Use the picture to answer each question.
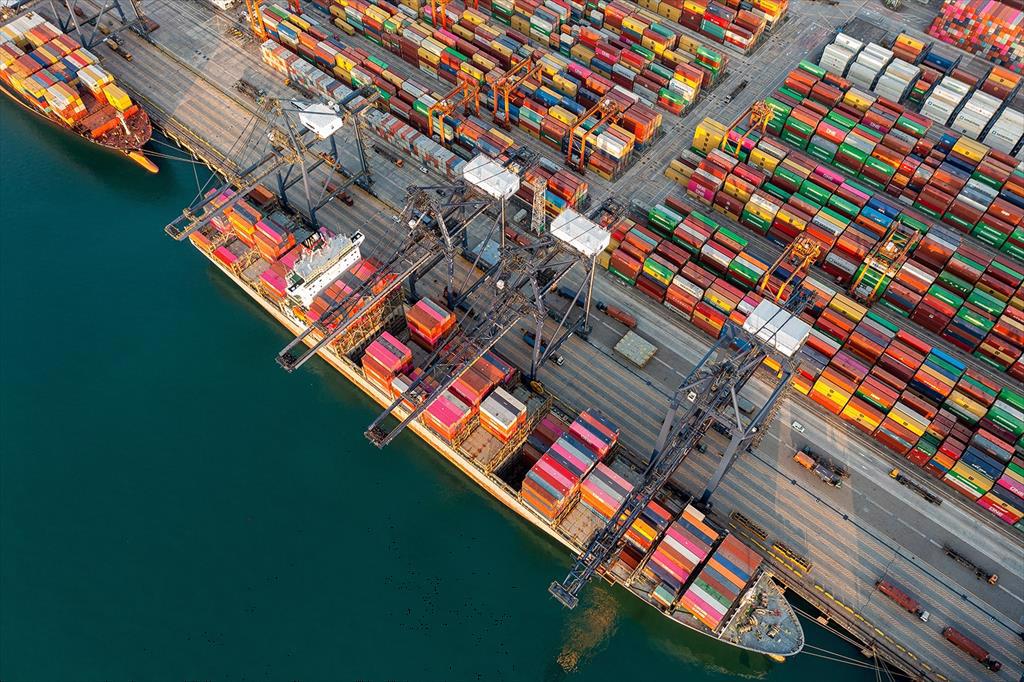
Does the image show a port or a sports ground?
port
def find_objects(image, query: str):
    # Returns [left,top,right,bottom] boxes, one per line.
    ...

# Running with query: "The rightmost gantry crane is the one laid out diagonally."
[844,219,921,307]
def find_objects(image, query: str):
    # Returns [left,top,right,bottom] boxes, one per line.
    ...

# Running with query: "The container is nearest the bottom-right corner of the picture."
[947,629,993,664]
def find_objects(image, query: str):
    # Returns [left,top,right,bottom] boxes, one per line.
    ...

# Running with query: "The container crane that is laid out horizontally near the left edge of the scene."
[34,0,136,36]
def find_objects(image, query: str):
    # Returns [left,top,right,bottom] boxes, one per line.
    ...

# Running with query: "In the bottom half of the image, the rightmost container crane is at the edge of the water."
[548,297,811,610]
